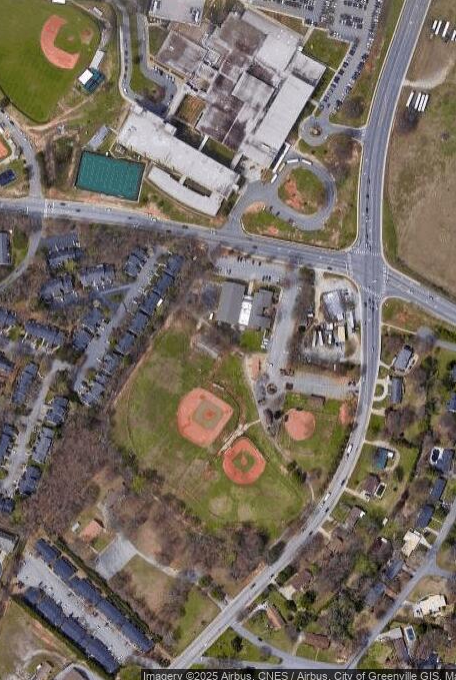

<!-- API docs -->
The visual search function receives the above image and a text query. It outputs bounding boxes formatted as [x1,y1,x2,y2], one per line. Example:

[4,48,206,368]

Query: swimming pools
[403,624,417,644]
[375,483,387,498]
[430,446,441,464]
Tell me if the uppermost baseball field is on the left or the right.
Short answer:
left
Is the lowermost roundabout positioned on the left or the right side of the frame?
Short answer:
right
